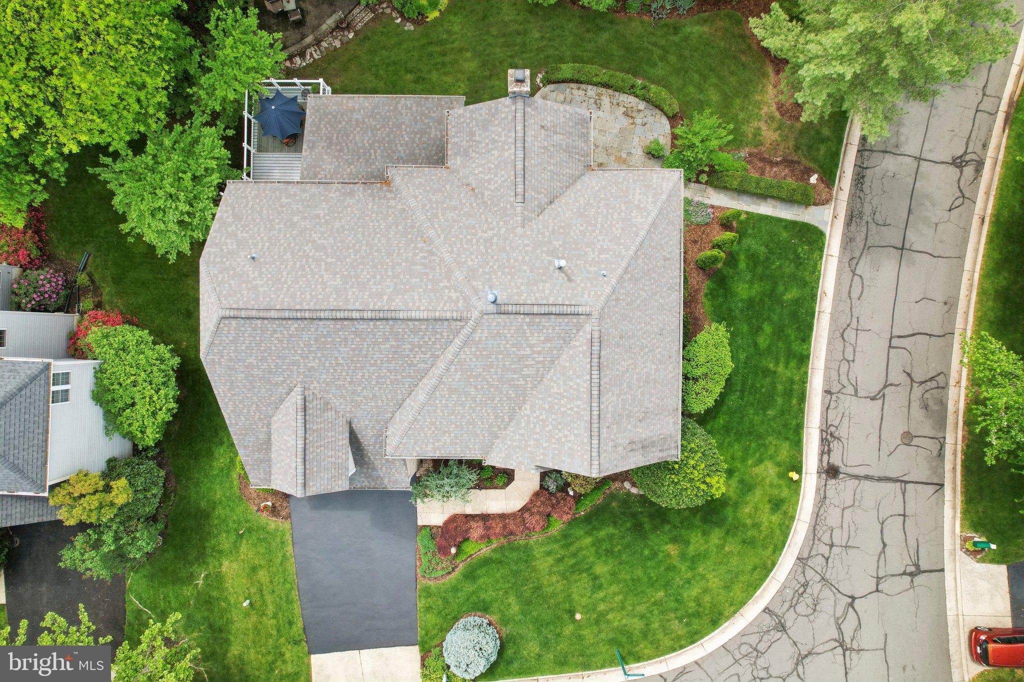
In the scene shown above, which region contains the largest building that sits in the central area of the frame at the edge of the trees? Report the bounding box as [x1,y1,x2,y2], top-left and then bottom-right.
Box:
[198,65,686,498]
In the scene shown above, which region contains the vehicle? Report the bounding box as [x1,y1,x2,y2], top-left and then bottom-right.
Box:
[967,622,1024,669]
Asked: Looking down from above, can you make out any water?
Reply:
No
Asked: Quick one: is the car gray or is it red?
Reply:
red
